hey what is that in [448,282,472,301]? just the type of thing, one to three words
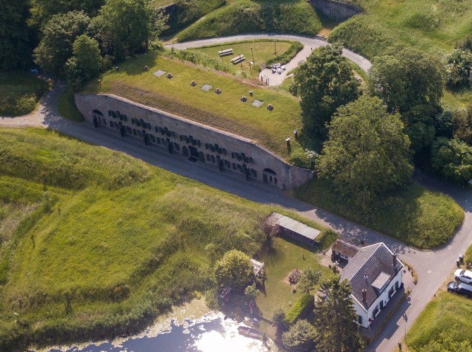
car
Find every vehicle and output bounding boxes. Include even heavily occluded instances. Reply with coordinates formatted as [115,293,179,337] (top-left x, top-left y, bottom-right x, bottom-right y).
[448,282,472,301]
[453,267,472,285]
